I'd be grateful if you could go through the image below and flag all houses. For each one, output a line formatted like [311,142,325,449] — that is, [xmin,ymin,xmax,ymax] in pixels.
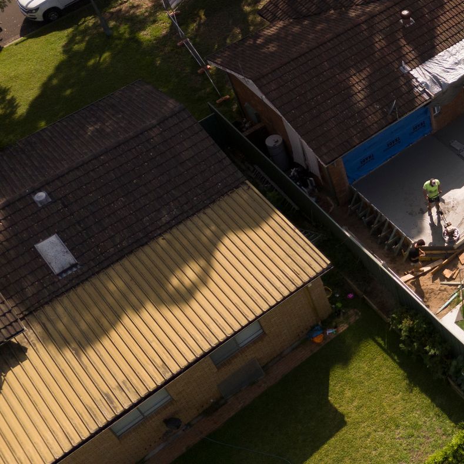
[205,0,464,205]
[0,75,336,464]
